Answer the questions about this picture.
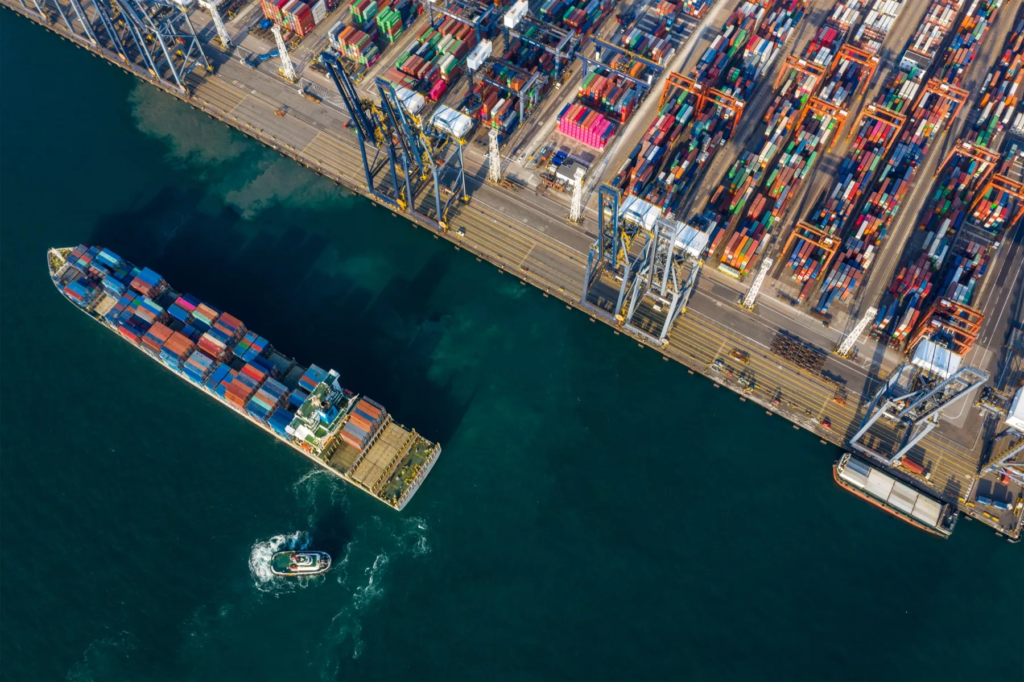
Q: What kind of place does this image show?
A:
port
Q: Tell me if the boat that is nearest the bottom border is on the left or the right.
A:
left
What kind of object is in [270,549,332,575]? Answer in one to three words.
boat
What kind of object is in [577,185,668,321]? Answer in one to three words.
container crane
